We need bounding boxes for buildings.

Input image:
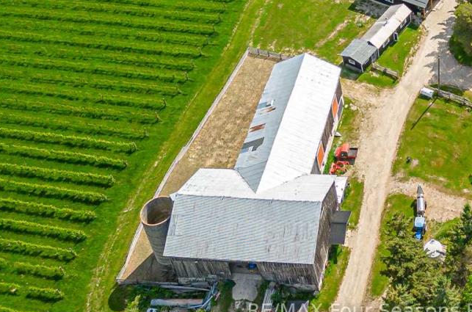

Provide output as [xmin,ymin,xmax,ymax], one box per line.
[340,5,418,80]
[162,47,353,290]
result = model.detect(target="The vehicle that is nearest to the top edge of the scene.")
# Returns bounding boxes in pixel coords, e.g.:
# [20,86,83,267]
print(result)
[331,145,362,163]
